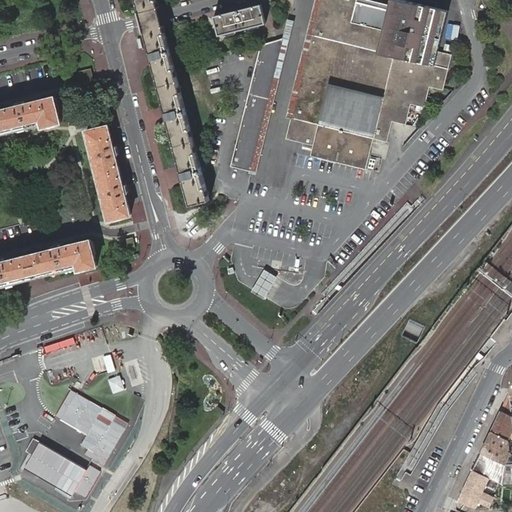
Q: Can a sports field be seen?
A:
No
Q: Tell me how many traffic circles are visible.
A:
1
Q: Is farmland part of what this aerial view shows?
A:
No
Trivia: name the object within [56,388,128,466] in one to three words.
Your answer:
building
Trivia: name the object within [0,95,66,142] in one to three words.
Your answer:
building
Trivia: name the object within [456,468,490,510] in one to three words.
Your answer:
house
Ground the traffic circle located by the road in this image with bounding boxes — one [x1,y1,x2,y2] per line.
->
[137,248,214,325]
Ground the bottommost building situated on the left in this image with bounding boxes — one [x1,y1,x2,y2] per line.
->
[21,437,102,498]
